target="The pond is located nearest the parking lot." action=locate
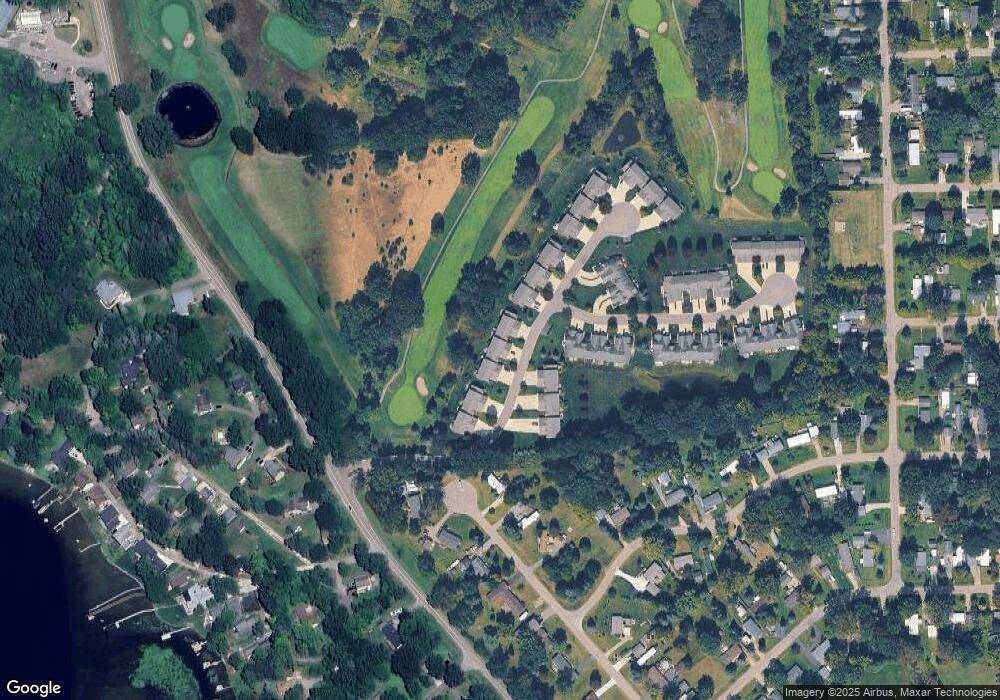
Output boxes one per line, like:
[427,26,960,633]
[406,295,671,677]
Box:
[157,82,220,143]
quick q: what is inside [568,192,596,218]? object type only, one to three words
house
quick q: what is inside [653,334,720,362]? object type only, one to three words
building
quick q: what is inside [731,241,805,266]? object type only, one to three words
building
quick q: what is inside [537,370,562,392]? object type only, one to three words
house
